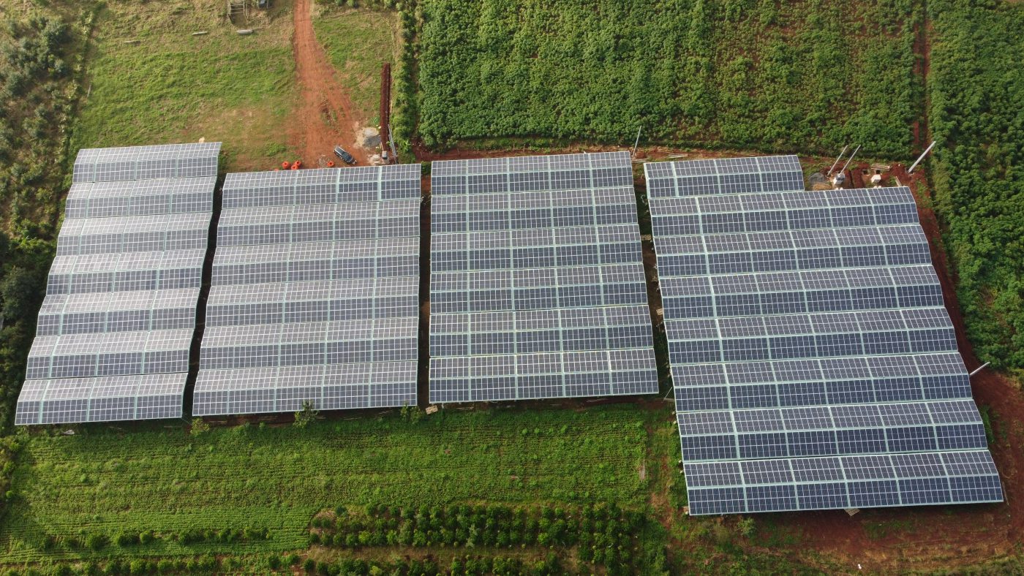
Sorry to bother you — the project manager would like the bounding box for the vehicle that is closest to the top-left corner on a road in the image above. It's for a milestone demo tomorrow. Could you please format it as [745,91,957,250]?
[332,145,356,165]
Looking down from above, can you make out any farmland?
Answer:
Yes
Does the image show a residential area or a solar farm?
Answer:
solar farm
